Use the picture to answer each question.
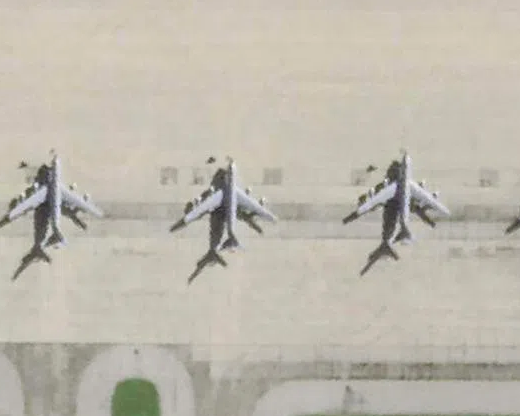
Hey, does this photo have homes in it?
No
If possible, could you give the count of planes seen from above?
3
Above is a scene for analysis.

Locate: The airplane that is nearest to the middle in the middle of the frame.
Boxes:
[187,160,277,253]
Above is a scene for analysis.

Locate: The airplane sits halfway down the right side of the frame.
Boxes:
[361,154,451,246]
